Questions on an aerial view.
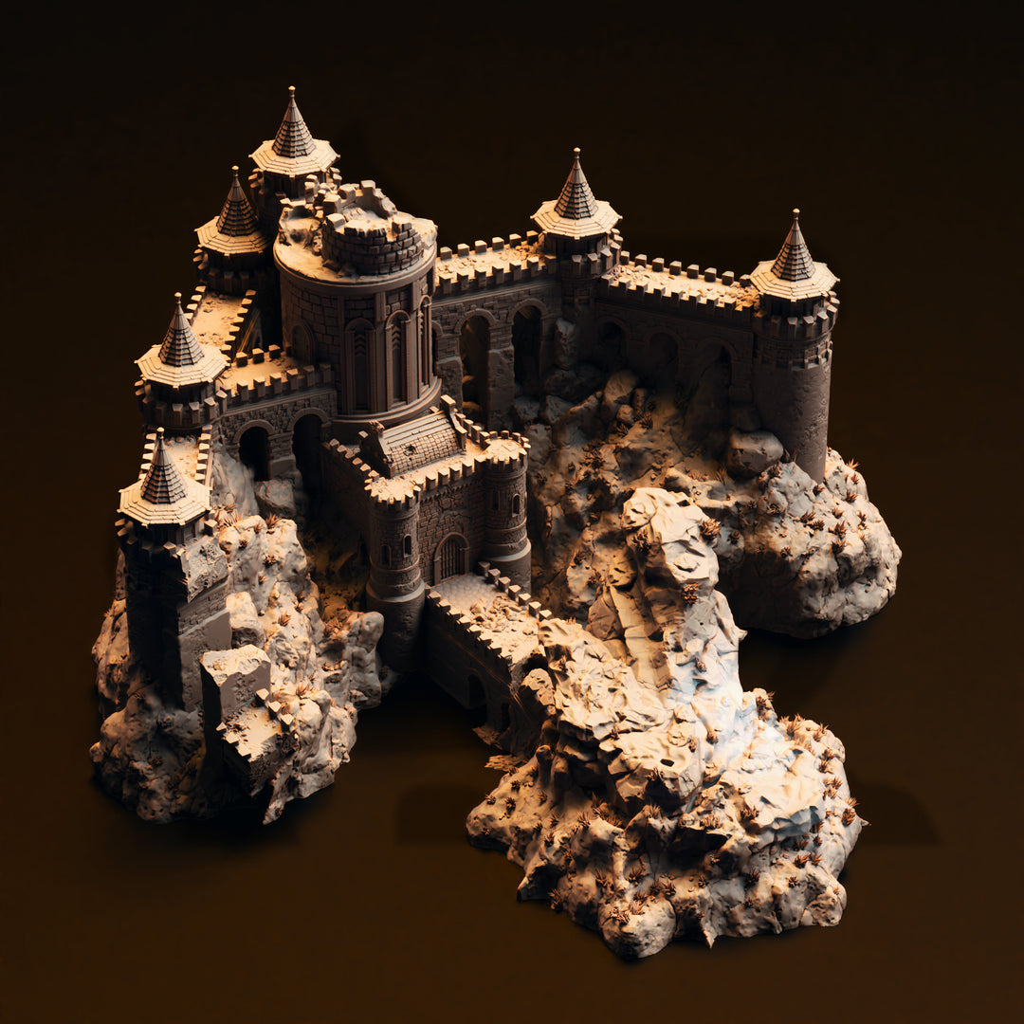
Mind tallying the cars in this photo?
zero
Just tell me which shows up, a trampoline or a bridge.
bridge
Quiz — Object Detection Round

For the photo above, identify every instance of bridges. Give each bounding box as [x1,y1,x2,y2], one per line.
[422,551,576,723]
